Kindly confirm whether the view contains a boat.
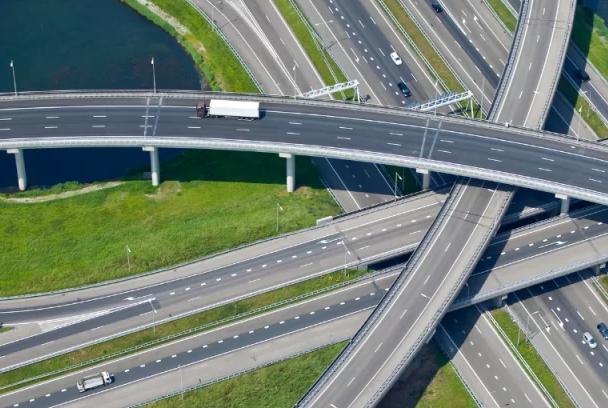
No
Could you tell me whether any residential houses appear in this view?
No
